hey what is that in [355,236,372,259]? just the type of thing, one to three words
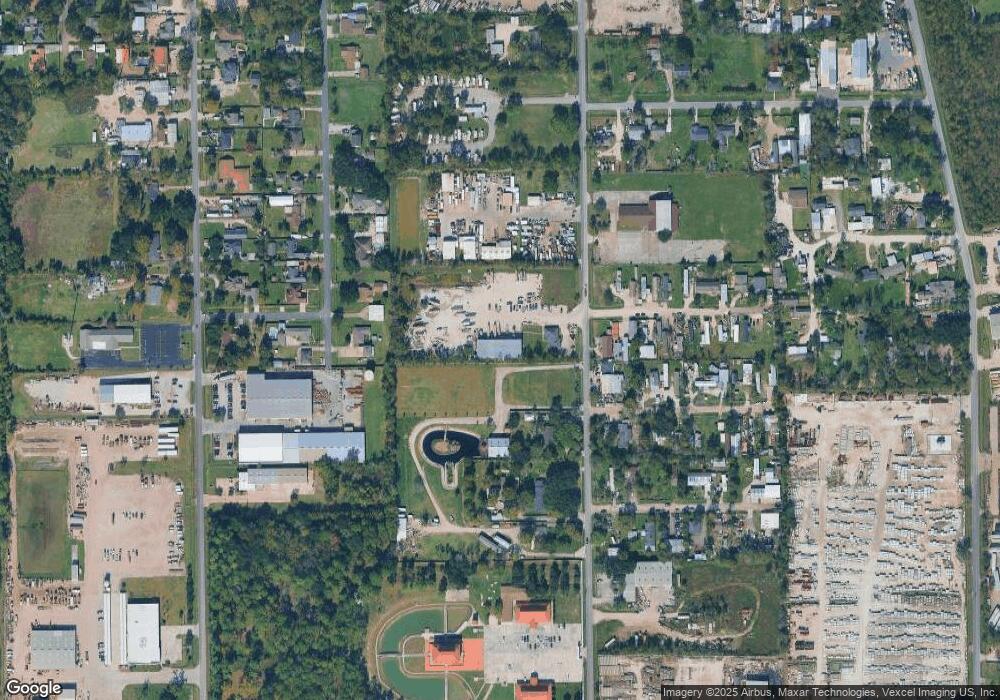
house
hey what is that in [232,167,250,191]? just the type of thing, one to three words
house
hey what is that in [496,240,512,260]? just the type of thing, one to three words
building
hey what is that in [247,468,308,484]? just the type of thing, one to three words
building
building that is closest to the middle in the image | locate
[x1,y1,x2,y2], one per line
[477,339,522,358]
